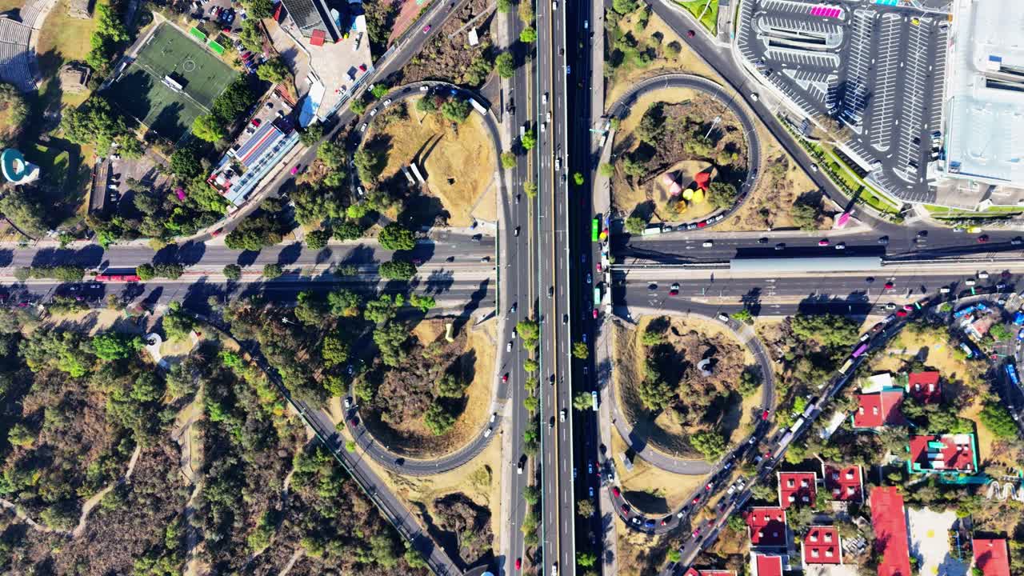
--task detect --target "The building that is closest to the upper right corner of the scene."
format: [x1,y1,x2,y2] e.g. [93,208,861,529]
[927,0,1024,192]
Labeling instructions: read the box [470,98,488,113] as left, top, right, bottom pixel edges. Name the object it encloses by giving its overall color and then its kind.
white vehicle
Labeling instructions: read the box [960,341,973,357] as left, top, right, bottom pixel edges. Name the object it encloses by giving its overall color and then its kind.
white vehicle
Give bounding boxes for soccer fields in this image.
[102,21,237,145]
